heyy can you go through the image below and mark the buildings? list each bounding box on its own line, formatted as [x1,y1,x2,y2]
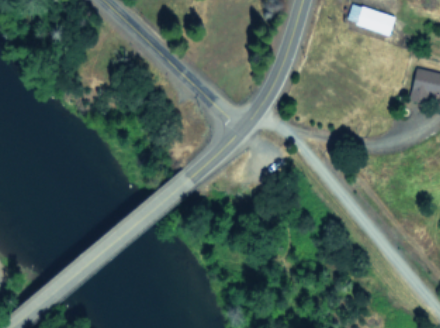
[410,65,440,100]
[348,2,396,35]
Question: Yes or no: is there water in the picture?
Yes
